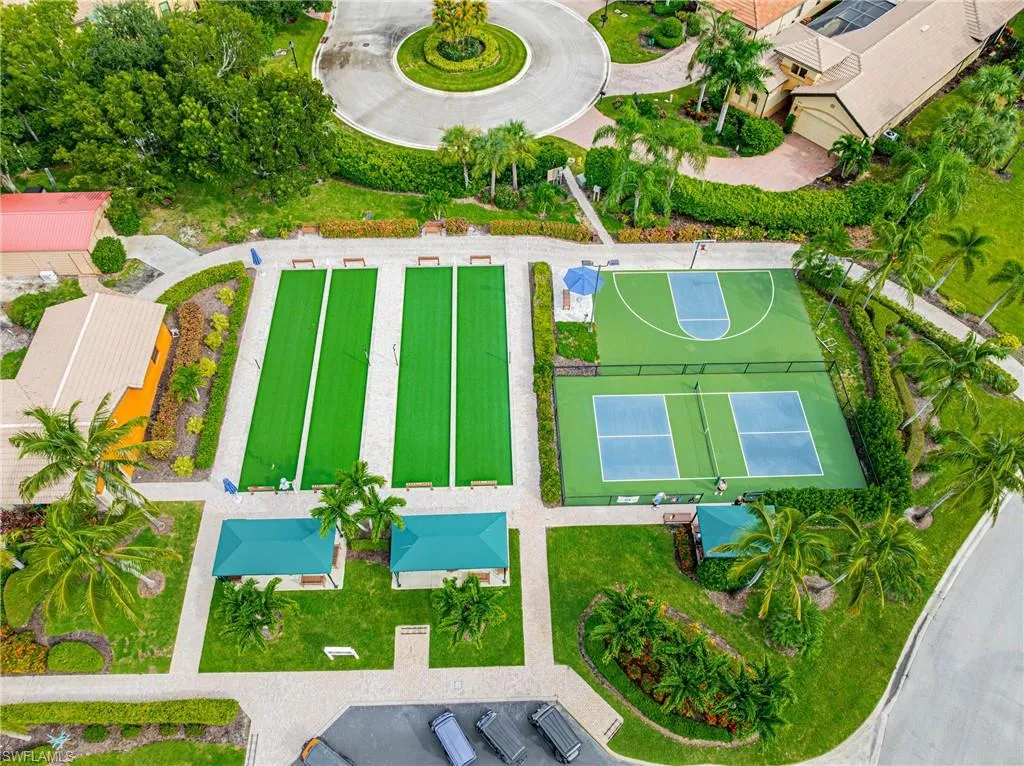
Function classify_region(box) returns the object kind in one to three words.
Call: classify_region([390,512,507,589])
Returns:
building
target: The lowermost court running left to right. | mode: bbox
[557,370,867,505]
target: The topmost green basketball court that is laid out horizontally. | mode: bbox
[600,268,826,375]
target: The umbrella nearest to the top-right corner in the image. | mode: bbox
[562,267,602,305]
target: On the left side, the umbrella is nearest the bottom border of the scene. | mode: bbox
[221,477,245,506]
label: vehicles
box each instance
[529,702,581,766]
[308,740,357,766]
[433,708,478,766]
[475,708,527,766]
